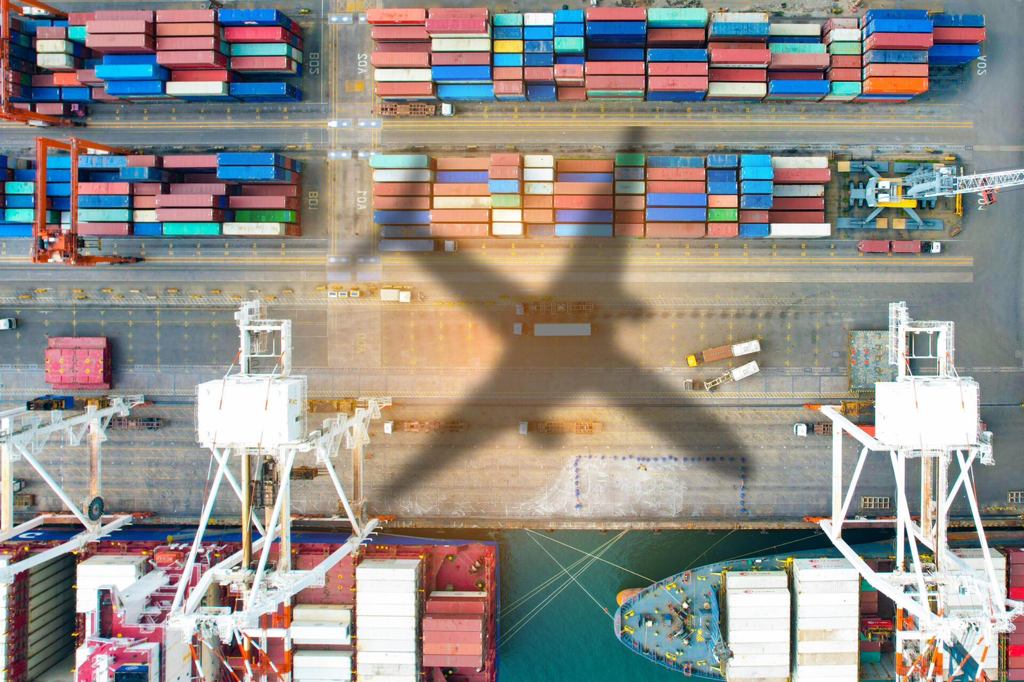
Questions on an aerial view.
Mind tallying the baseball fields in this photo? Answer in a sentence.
The picture shows no baseball fields.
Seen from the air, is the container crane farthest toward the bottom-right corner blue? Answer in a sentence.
No, from above the container crane farthest toward the bottom-right corner looks white.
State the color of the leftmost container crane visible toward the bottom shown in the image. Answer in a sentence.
From above, the leftmost container crane visible toward the bottom appears white.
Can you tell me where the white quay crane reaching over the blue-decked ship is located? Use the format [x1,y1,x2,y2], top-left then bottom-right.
[801,294,1014,682]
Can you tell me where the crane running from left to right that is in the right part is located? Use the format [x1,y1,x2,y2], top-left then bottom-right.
[836,160,1024,229]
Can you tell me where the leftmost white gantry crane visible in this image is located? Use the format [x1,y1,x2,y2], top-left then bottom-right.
[0,310,156,606]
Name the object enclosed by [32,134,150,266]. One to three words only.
container crane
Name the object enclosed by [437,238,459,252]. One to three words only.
vehicle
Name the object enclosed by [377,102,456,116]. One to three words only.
vehicle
